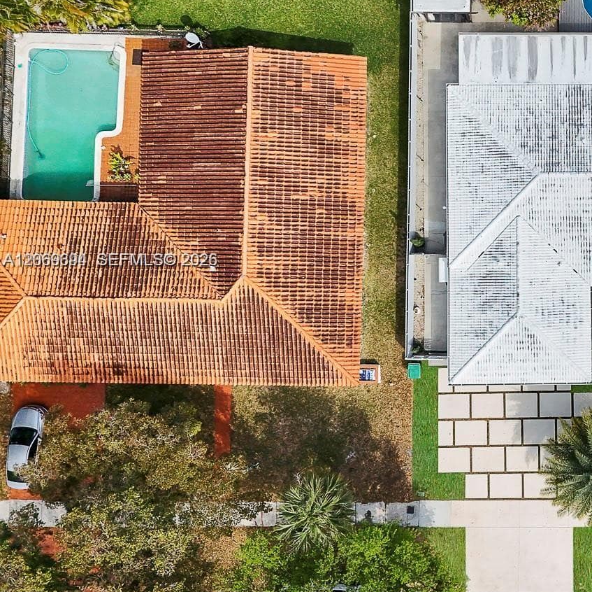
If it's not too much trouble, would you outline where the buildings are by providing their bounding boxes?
[0,45,364,387]
[445,33,592,388]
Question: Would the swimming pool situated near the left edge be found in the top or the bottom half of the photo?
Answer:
top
